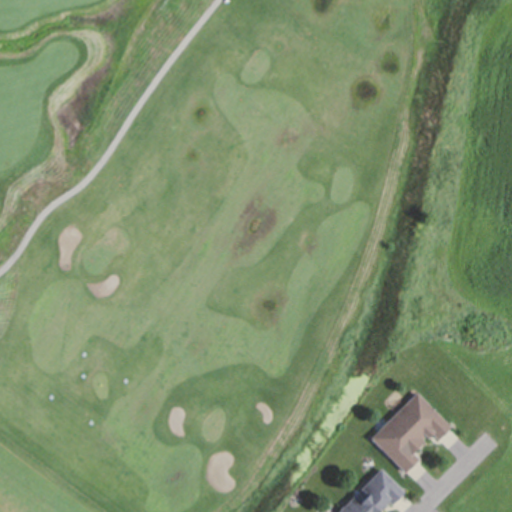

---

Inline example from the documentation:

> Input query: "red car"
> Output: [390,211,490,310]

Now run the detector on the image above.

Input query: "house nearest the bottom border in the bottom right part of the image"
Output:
[342,470,406,512]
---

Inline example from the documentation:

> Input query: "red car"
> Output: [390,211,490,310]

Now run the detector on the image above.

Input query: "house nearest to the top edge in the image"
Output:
[372,395,452,474]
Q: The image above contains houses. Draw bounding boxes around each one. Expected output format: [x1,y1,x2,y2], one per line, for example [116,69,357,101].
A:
[342,470,406,512]
[372,395,452,474]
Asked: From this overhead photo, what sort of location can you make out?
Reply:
golf course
